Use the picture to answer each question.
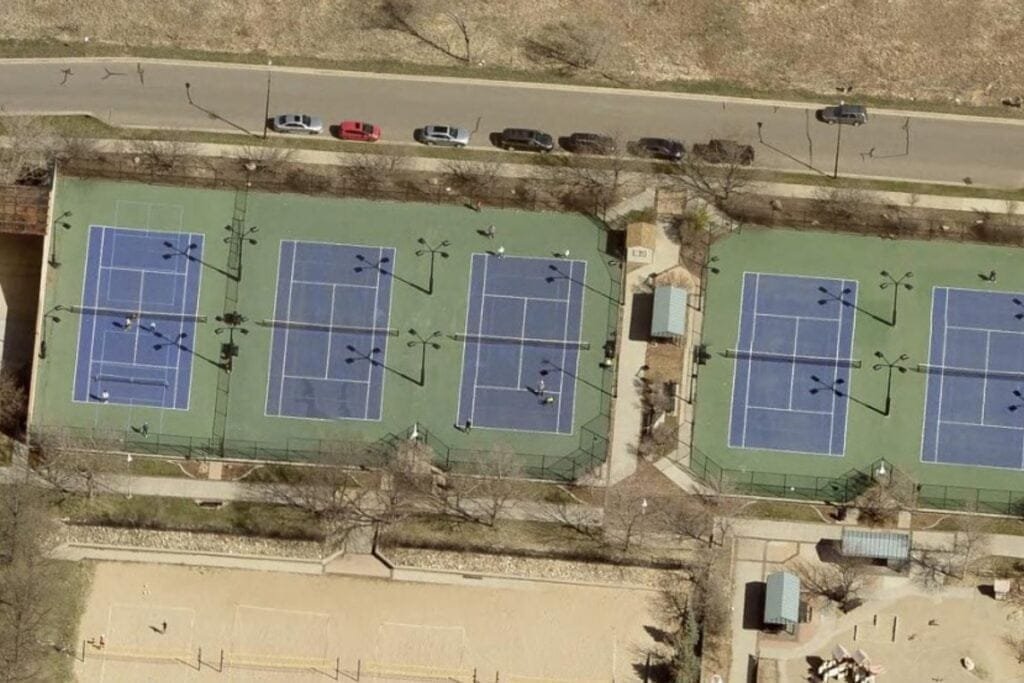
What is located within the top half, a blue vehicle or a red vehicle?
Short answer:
red vehicle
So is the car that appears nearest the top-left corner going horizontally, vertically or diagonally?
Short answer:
horizontally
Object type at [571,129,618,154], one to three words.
car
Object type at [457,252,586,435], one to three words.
tennis court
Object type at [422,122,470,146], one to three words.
car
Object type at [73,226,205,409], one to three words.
tennis court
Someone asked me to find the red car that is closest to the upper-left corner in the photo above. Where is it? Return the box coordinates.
[341,120,383,141]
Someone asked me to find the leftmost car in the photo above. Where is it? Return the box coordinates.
[275,113,324,135]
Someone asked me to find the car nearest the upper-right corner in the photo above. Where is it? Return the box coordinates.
[820,103,867,127]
